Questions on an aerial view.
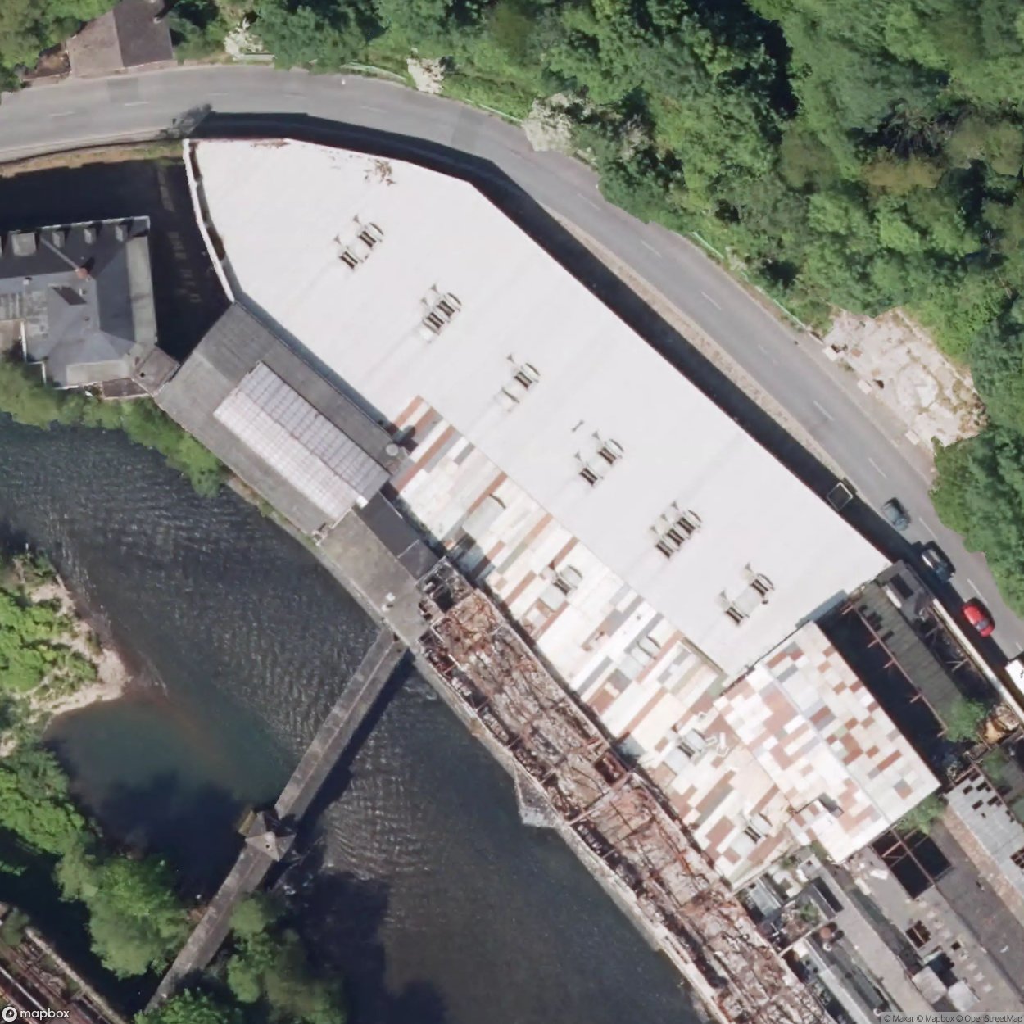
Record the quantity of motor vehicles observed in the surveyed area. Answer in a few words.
3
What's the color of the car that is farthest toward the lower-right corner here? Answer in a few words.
red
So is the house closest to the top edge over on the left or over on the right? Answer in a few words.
left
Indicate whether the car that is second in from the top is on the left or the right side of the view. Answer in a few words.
right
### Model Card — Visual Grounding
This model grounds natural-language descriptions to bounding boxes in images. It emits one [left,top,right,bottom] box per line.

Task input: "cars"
[880,496,911,532]
[922,546,955,584]
[962,599,995,636]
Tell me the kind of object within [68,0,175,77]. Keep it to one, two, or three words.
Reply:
house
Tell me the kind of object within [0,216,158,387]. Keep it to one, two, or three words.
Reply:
house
